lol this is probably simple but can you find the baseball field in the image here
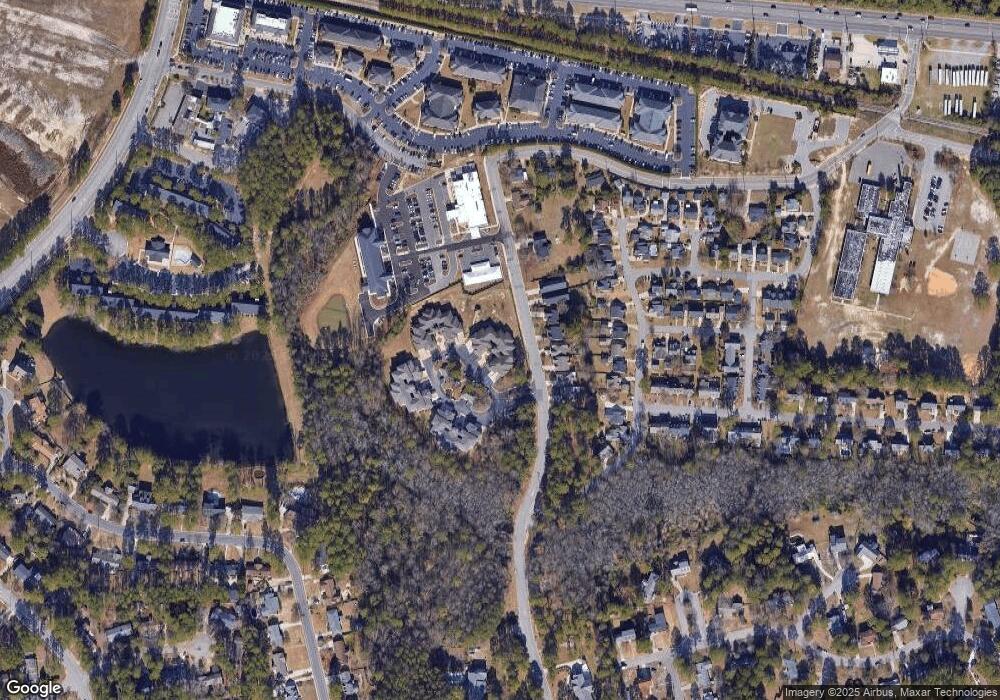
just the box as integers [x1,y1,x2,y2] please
[926,266,957,297]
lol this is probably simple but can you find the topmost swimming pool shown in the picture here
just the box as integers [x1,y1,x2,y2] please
[166,241,203,272]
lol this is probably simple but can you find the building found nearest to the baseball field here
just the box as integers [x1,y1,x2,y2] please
[833,181,915,300]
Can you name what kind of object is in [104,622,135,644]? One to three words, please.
house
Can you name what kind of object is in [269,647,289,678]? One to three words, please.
house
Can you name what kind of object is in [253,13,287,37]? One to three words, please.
building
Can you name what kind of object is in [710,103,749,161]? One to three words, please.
building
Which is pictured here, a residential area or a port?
residential area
